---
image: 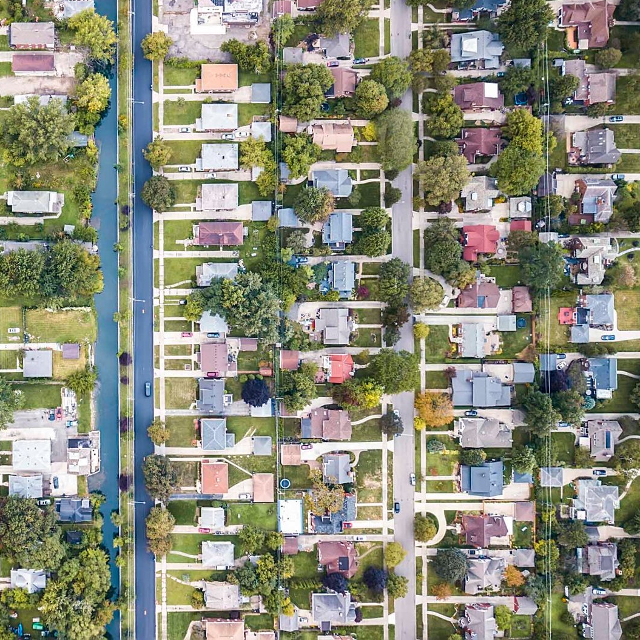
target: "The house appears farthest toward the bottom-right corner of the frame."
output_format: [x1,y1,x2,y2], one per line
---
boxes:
[584,599,622,640]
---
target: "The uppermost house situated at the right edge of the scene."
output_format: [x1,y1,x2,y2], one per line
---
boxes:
[556,0,616,52]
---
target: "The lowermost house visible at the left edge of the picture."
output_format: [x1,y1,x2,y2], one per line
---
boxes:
[10,568,45,595]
